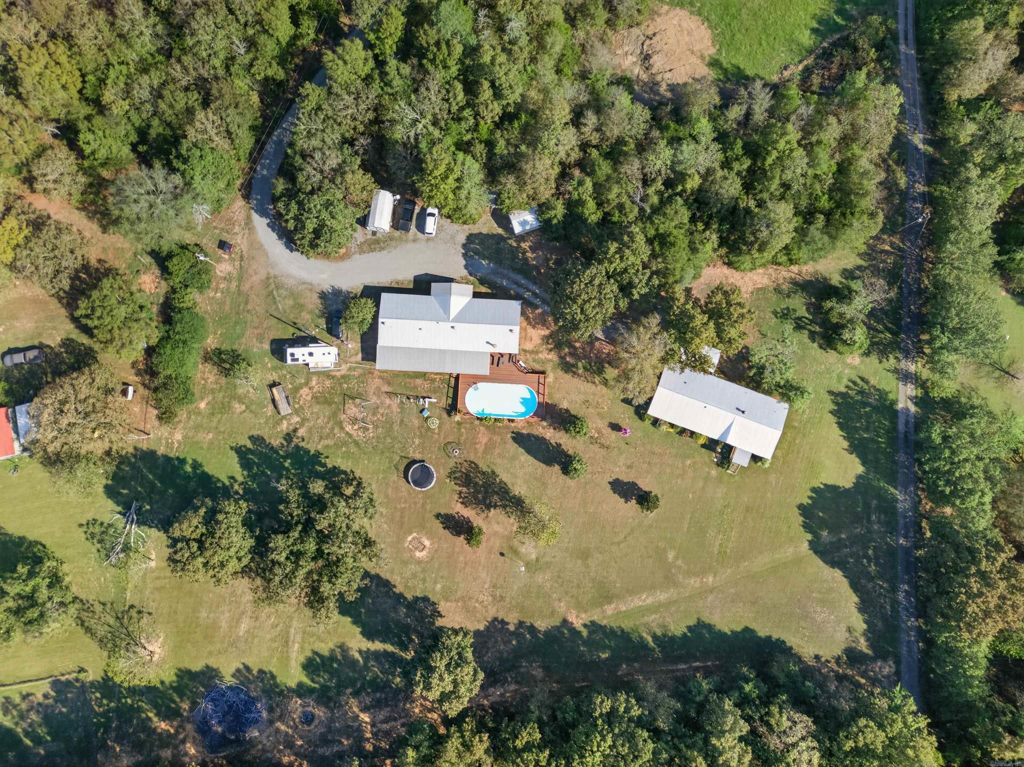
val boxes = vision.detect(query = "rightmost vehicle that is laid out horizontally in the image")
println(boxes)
[287,345,347,369]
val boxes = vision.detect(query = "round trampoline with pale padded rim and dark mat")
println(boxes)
[407,461,436,491]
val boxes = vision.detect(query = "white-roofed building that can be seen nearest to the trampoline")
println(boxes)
[376,283,521,375]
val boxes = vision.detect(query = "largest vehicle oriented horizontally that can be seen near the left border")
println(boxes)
[4,348,46,366]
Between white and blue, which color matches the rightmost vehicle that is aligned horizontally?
white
